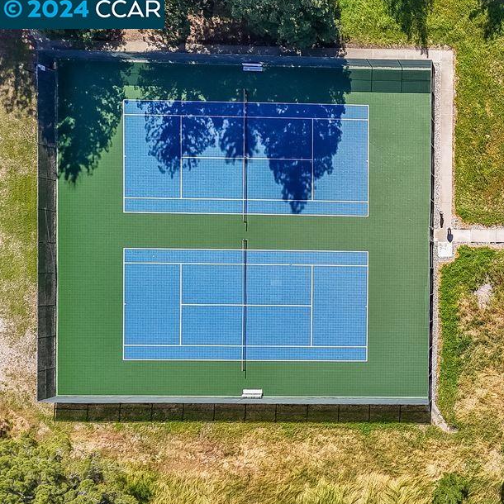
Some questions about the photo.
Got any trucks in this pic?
No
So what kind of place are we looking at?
sports ground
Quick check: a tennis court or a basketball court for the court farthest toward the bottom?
tennis court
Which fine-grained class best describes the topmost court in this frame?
tennis court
